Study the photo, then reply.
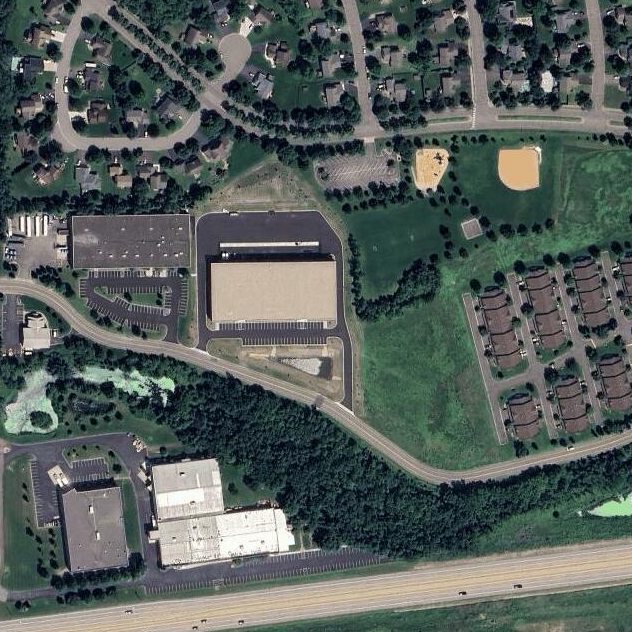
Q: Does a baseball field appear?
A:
Yes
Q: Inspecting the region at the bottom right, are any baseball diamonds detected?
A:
No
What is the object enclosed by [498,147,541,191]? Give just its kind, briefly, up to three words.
baseball field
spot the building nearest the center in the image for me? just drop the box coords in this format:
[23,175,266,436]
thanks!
[211,261,337,321]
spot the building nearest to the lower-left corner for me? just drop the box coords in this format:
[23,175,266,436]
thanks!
[63,487,129,572]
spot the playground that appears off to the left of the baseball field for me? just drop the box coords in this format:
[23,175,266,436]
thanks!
[412,147,450,196]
